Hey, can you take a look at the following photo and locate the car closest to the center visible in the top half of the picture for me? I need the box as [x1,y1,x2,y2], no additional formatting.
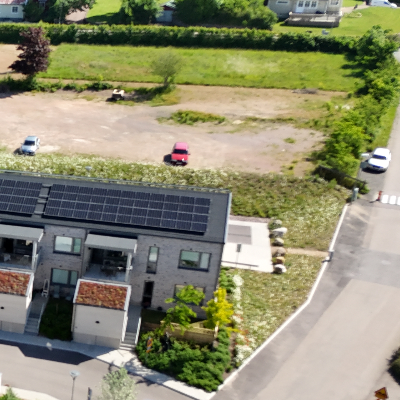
[168,137,193,161]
